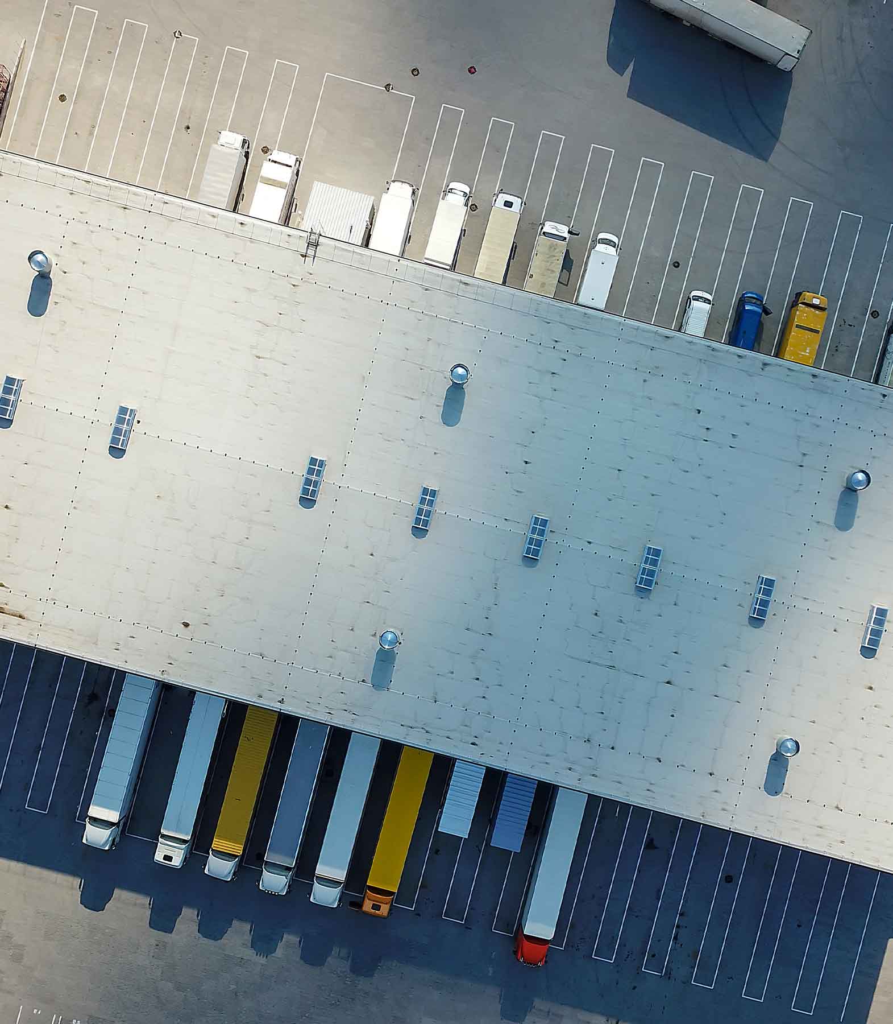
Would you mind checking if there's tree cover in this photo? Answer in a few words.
No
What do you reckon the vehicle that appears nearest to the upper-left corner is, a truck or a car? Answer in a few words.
truck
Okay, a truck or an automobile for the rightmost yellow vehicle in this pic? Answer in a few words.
truck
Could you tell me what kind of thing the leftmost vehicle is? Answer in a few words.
truck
